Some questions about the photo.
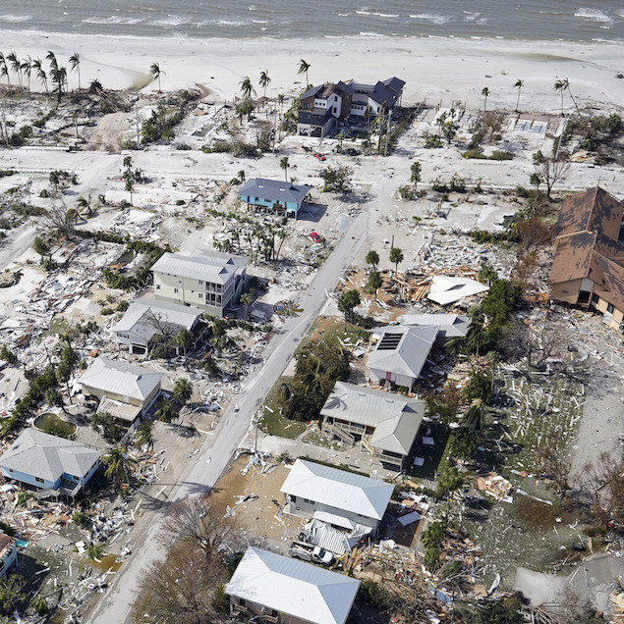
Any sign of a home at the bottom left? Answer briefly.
Yes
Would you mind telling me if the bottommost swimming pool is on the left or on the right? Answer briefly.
left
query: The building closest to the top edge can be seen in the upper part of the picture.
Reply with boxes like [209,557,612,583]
[297,74,408,136]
